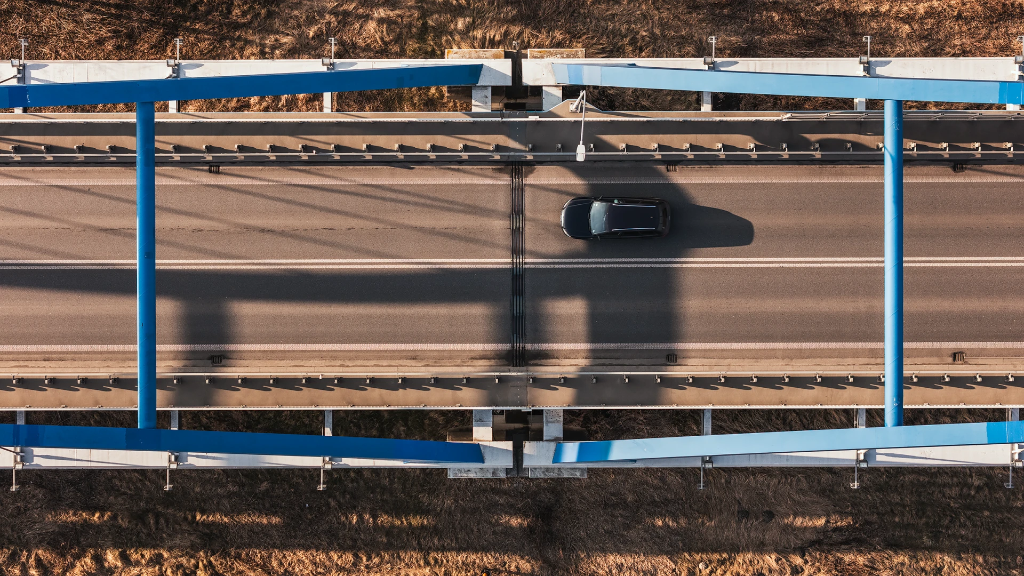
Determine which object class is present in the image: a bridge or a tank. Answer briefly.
bridge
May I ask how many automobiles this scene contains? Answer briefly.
one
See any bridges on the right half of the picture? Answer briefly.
Yes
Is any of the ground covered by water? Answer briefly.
No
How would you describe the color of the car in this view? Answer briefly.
black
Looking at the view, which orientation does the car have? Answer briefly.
from side to side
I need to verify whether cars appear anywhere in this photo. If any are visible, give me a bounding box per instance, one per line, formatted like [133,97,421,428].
[560,192,670,242]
